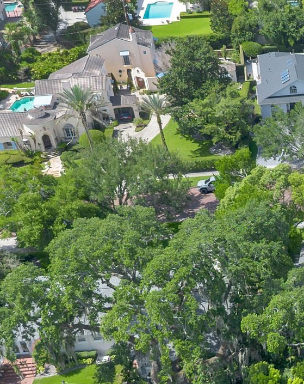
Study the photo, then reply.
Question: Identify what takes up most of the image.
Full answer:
The largest share of the image is taken up by trees.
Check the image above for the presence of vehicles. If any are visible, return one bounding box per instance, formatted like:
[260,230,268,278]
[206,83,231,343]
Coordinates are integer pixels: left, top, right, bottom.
[194,179,230,199]
[121,109,136,119]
